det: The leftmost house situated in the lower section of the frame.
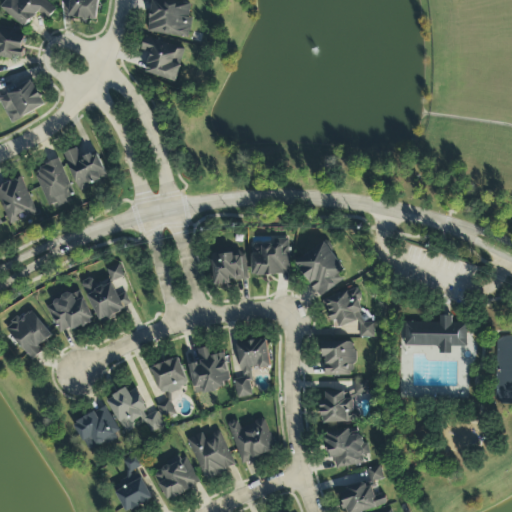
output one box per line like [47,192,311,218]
[8,308,54,356]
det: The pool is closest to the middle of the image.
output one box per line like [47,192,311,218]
[256,374,268,389]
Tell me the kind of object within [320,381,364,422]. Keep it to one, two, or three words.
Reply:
house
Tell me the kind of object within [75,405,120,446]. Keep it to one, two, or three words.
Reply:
house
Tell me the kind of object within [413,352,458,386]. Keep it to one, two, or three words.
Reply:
swimming pool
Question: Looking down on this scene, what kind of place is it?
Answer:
residential area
